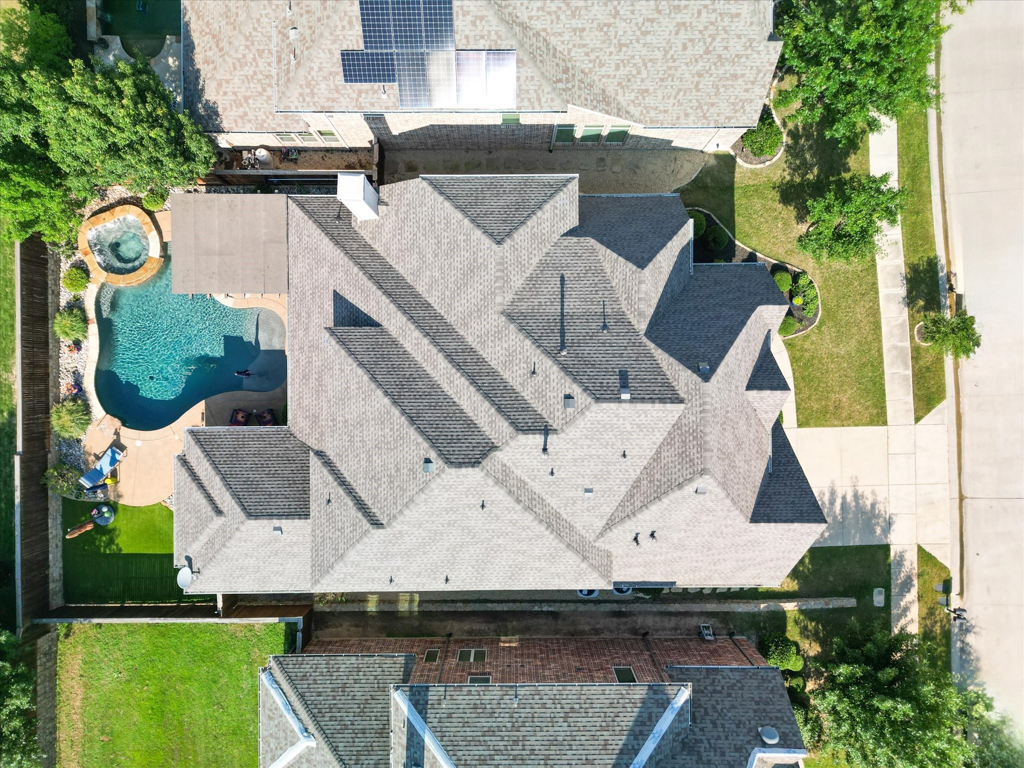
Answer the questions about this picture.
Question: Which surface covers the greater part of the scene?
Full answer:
The scene is dominated by buildings.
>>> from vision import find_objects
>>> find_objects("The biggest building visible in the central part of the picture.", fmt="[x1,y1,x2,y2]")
[171,172,826,596]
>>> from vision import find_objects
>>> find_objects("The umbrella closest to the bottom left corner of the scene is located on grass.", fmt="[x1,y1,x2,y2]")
[66,523,105,538]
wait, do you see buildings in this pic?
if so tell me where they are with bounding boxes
[181,0,785,154]
[259,632,809,768]
[171,172,826,596]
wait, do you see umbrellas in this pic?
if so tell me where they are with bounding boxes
[84,482,119,493]
[66,523,105,538]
